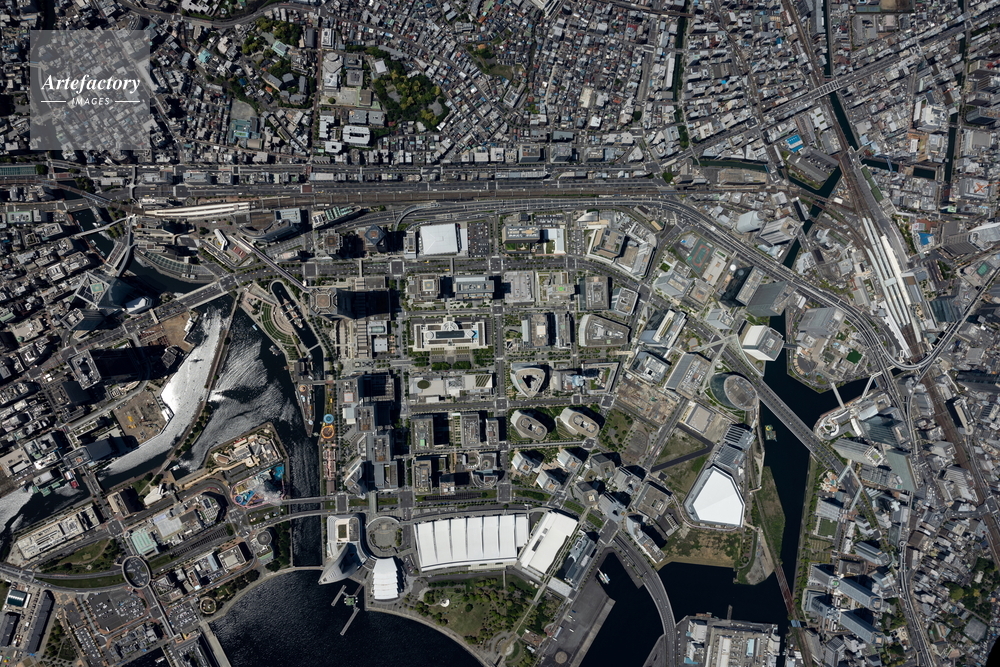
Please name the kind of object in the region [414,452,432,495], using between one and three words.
building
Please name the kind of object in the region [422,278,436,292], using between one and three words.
helipad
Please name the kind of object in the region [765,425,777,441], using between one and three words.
ship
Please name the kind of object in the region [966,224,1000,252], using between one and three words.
building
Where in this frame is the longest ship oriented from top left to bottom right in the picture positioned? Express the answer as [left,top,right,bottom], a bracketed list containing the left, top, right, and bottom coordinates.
[281,297,304,330]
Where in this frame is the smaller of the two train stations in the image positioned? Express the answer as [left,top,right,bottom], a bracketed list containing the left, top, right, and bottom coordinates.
[146,201,250,218]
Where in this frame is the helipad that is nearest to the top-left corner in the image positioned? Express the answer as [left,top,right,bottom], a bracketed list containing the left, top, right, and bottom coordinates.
[90,280,104,295]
